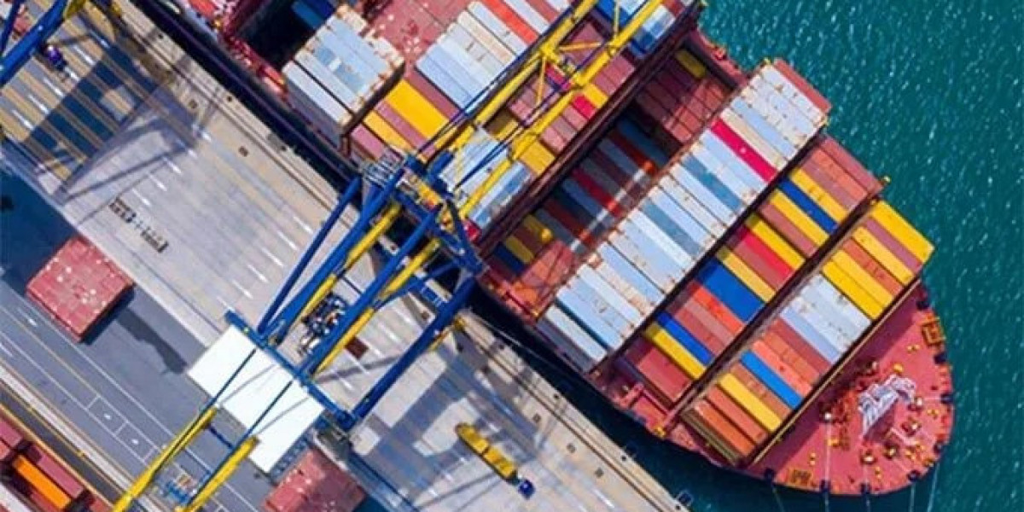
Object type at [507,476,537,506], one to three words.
truck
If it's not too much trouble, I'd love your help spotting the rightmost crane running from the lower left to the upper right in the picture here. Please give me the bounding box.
[97,0,673,512]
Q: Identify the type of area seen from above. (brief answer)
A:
port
